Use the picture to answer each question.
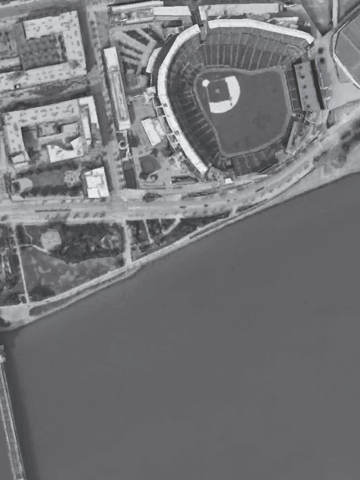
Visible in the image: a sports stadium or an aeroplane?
sports stadium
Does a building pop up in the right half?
Yes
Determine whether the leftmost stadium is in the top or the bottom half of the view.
top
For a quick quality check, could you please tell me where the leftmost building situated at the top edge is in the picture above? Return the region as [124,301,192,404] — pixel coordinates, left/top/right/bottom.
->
[0,10,86,93]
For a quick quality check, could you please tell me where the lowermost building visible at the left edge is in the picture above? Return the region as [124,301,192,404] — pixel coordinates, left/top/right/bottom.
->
[1,97,98,163]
